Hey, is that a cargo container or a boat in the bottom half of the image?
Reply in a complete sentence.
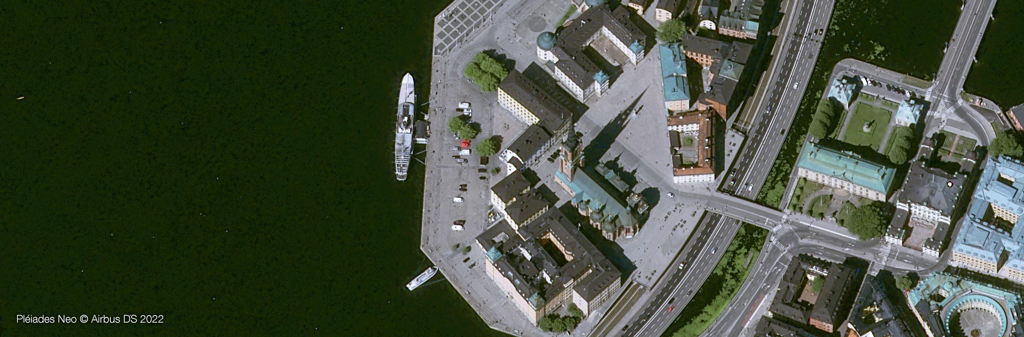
The feature located in the bottom half of the image is a boat.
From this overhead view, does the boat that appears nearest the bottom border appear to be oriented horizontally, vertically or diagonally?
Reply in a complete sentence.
Seen from above, the boat that appears nearest the bottom border lies diagonally.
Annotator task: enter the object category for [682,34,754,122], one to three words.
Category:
building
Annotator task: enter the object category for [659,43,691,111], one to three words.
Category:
house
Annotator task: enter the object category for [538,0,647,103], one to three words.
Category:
building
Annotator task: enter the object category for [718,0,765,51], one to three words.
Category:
house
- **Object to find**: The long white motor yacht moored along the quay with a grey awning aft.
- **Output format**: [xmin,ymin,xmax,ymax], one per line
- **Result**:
[396,73,415,182]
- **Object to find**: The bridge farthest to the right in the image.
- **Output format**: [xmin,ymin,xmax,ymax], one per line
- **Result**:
[931,0,998,93]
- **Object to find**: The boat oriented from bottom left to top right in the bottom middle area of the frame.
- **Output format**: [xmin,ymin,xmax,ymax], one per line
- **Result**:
[406,266,438,291]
